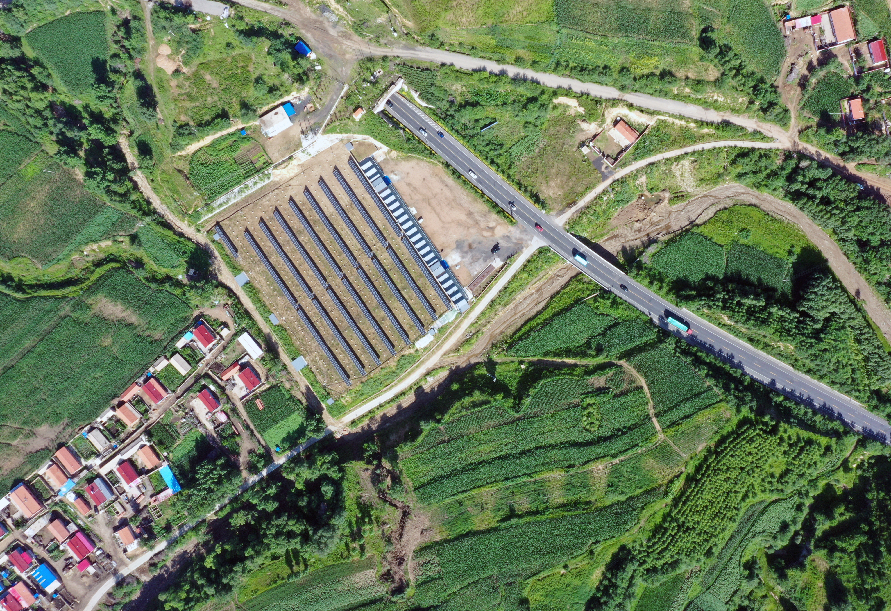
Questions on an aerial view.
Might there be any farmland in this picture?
Yes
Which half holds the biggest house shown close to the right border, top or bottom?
top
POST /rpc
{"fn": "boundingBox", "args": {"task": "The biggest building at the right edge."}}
[826,9,855,45]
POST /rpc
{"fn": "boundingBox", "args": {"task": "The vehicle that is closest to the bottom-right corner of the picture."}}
[665,316,691,334]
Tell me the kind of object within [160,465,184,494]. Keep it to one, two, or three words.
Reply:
barn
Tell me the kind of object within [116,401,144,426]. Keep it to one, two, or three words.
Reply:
house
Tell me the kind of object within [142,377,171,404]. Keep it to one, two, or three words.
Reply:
house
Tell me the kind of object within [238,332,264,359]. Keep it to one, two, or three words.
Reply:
barn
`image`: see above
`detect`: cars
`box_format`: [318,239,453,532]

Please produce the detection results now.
[385,99,394,108]
[419,127,428,136]
[509,203,519,211]
[535,225,544,233]
[437,131,446,138]
[620,284,629,292]
[468,170,477,178]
